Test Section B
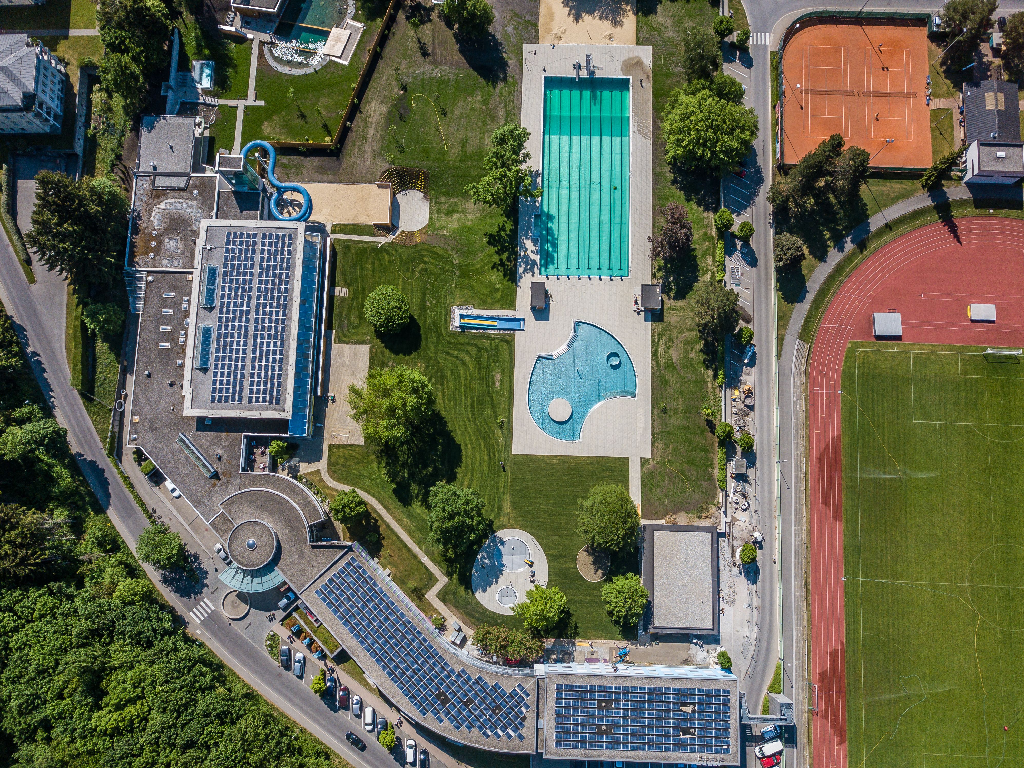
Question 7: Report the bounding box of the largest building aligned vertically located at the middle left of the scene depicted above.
[124,174,353,595]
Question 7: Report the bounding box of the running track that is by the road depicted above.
[809,216,1024,768]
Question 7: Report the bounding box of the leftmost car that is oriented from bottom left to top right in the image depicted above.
[276,590,297,609]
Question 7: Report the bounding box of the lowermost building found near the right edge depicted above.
[956,140,1024,188]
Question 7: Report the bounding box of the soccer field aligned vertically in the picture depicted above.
[841,341,1024,768]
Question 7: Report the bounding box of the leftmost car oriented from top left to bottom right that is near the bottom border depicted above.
[344,729,368,753]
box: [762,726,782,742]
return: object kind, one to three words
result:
car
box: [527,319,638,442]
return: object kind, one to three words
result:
swimming pool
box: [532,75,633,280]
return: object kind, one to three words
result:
swimming pool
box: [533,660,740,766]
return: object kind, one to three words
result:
building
